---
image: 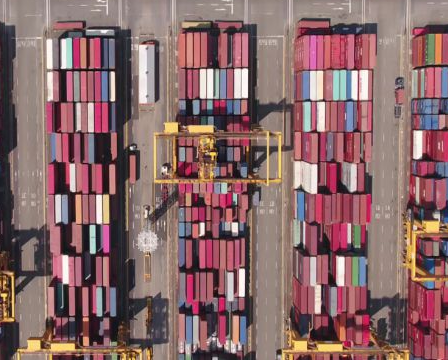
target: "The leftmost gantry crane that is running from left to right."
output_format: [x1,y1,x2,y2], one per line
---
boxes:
[19,318,142,360]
